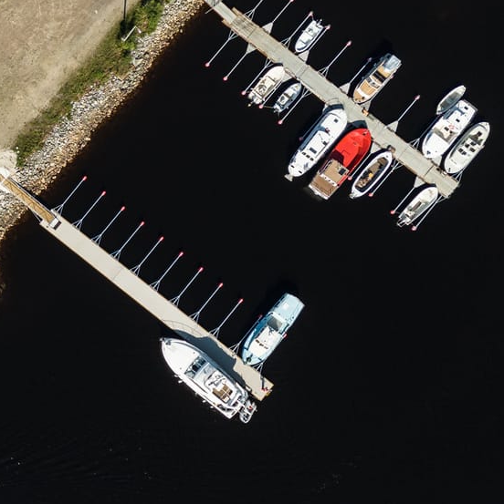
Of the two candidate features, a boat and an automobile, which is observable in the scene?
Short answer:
boat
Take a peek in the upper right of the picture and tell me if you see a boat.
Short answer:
Yes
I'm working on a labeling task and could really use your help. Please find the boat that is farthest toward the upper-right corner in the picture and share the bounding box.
[430,83,466,122]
